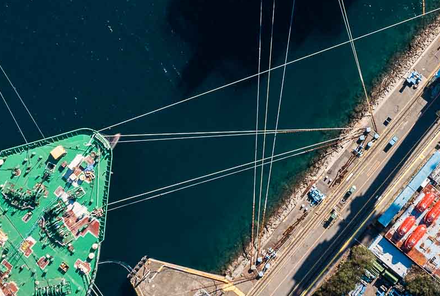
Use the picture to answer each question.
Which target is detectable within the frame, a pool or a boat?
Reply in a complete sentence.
It is a boat that can be seen here.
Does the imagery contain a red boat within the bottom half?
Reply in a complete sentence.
Yes, the scene does show a red boat within the bottom half.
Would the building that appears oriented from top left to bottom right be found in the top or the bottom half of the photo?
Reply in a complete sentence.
The building that appears oriented from top left to bottom right is in the bottom half of the image.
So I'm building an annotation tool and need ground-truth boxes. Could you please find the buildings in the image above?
[367,231,413,278]
[376,151,440,228]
